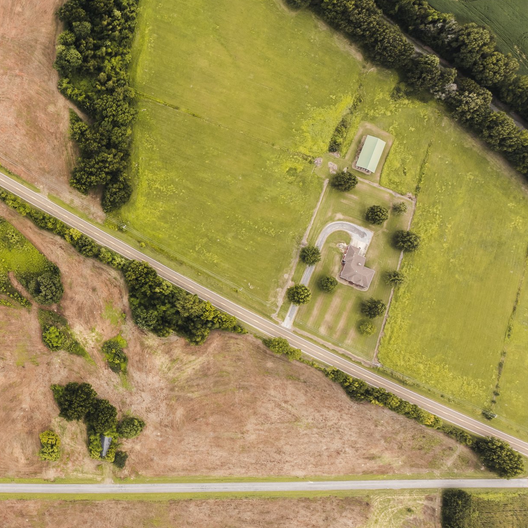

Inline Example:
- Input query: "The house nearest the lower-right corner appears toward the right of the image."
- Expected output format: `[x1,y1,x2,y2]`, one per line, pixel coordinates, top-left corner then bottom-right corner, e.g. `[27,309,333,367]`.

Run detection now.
[338,245,376,288]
